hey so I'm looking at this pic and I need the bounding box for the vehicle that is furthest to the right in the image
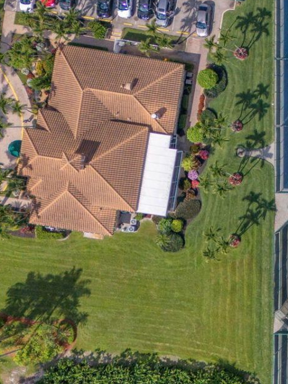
[195,3,214,37]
